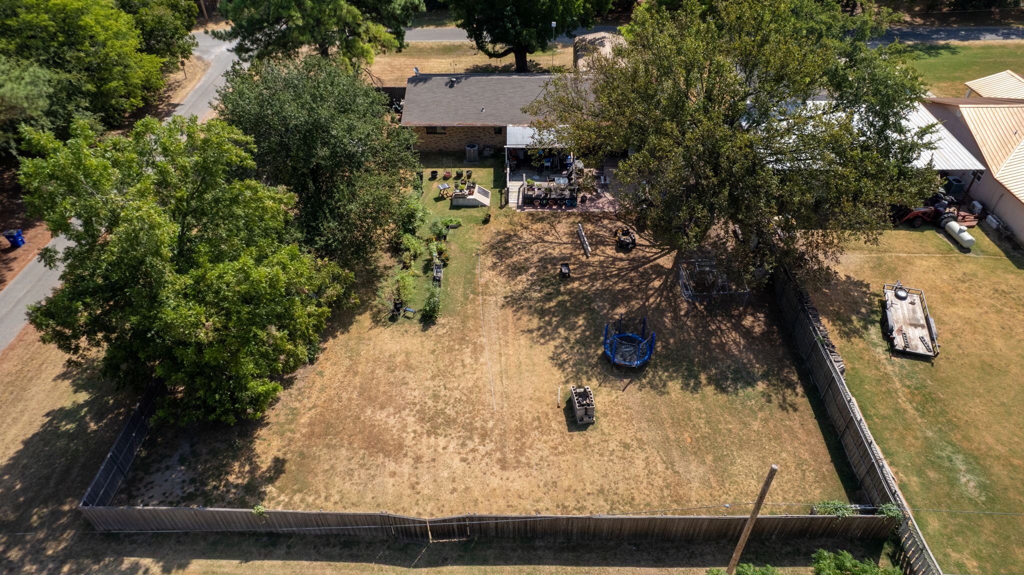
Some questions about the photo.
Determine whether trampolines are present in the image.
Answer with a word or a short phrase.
Yes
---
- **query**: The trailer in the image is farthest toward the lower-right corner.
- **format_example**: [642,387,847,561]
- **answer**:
[881,282,942,355]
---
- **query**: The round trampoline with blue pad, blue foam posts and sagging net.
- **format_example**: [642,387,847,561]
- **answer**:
[602,311,662,377]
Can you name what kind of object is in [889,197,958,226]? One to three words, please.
work vehicle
